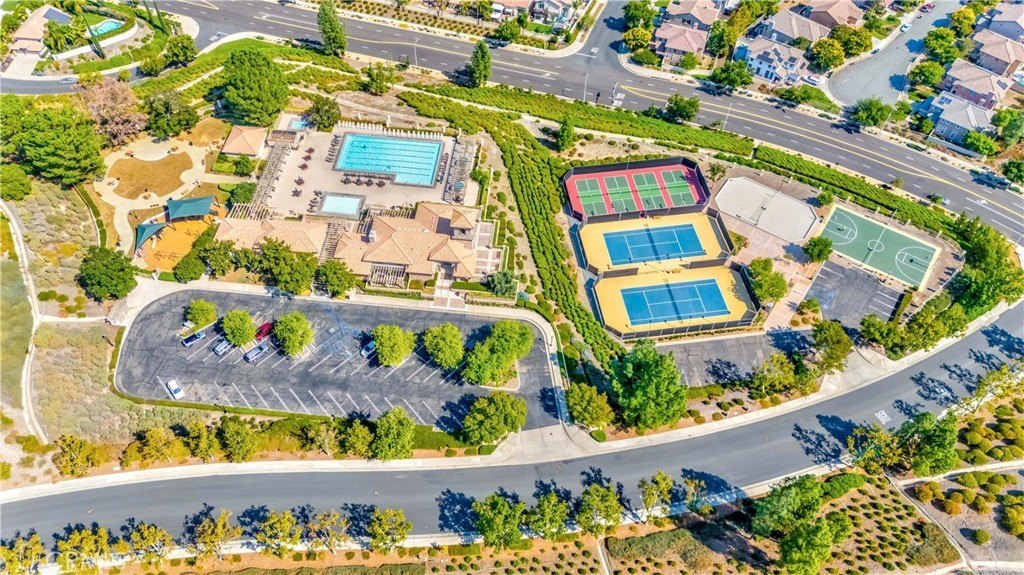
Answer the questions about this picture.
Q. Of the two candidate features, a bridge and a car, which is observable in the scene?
car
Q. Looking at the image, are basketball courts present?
Yes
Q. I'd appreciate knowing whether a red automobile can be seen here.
Yes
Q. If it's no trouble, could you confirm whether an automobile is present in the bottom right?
No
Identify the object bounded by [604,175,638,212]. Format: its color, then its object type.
green sports court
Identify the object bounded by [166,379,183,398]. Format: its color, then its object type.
white car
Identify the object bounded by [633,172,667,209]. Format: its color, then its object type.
green sports court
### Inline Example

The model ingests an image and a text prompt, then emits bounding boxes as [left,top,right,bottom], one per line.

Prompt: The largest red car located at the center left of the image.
[253,321,274,339]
